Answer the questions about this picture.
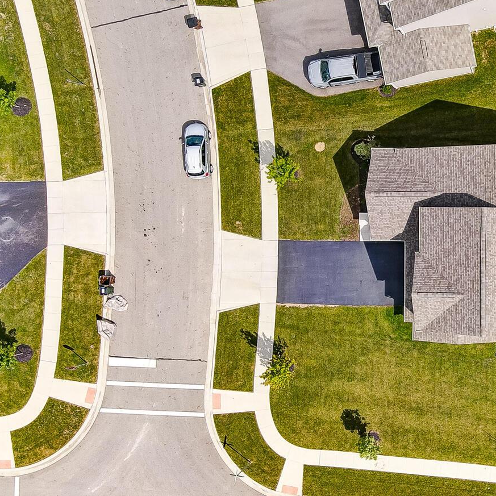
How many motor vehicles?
2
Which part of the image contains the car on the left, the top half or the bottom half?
top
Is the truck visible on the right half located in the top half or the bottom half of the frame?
top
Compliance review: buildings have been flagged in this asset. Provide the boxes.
[358,0,496,89]
[365,144,496,344]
